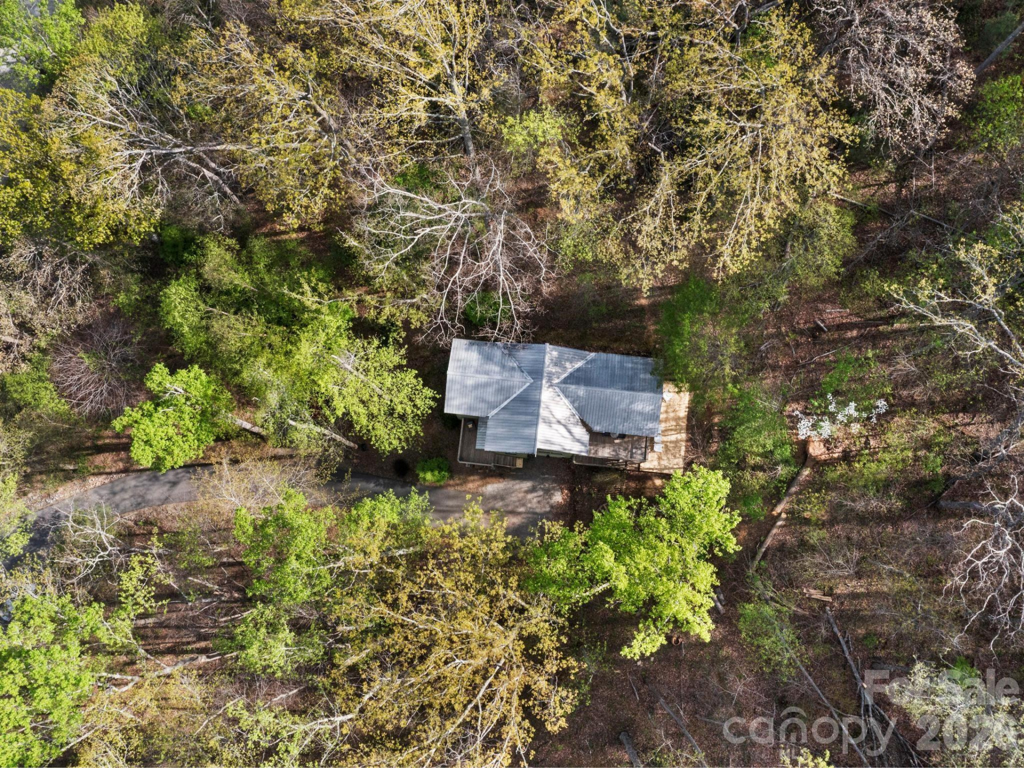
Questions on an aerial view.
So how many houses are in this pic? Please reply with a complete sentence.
The picture shows 1 house.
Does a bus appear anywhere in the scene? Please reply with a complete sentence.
No, the scene contains no bus.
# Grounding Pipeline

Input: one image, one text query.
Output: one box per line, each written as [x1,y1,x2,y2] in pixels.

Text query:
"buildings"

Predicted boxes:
[444,340,665,461]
